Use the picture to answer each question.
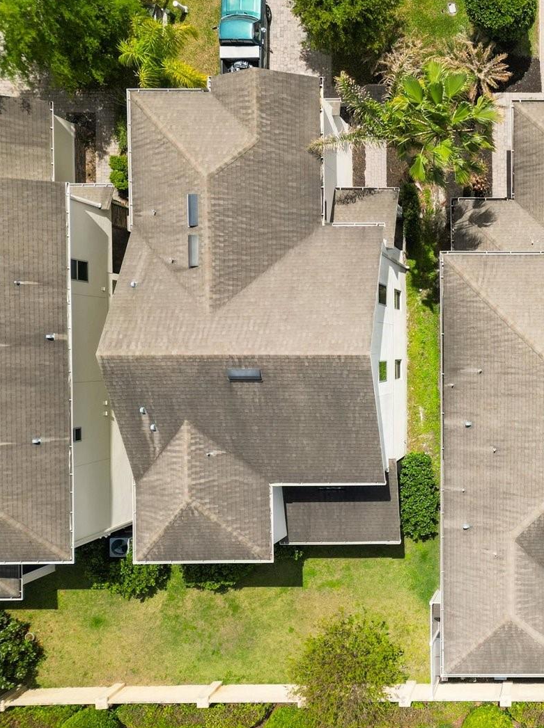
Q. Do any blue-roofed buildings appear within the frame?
No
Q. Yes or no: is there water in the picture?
No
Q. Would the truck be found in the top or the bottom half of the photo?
top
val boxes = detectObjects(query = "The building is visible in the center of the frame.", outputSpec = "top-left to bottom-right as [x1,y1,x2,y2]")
[97,70,406,565]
